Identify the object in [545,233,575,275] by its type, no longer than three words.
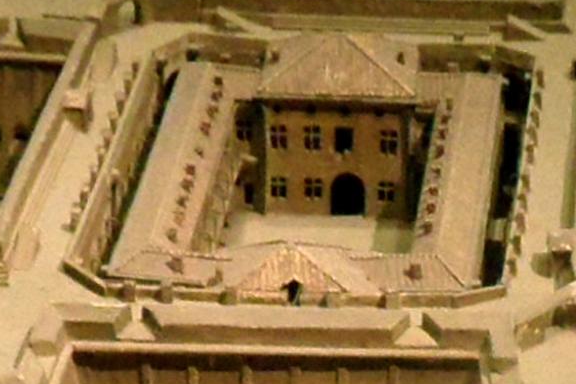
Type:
shed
